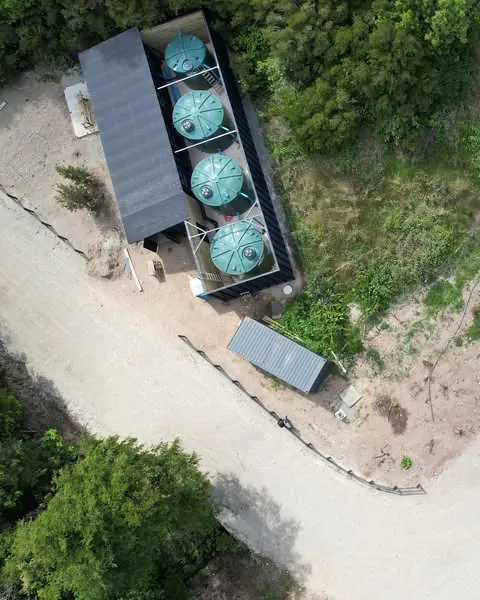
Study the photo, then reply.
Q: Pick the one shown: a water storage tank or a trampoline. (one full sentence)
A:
It is a water storage tank that can be seen here.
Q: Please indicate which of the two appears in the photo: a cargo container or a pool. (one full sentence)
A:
Of the two, only a cargo container appears.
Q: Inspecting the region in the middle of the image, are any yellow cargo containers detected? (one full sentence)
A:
No, I see no yellow cargo container in the middle of the image.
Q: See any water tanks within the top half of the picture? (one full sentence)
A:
Yes, I can see a water tank within the top half of the picture.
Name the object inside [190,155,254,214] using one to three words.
water tank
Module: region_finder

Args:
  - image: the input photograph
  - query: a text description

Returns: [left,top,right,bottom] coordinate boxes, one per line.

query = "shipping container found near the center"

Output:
[228,316,335,394]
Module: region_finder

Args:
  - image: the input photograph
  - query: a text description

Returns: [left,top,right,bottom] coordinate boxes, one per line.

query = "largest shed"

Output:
[77,26,202,244]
